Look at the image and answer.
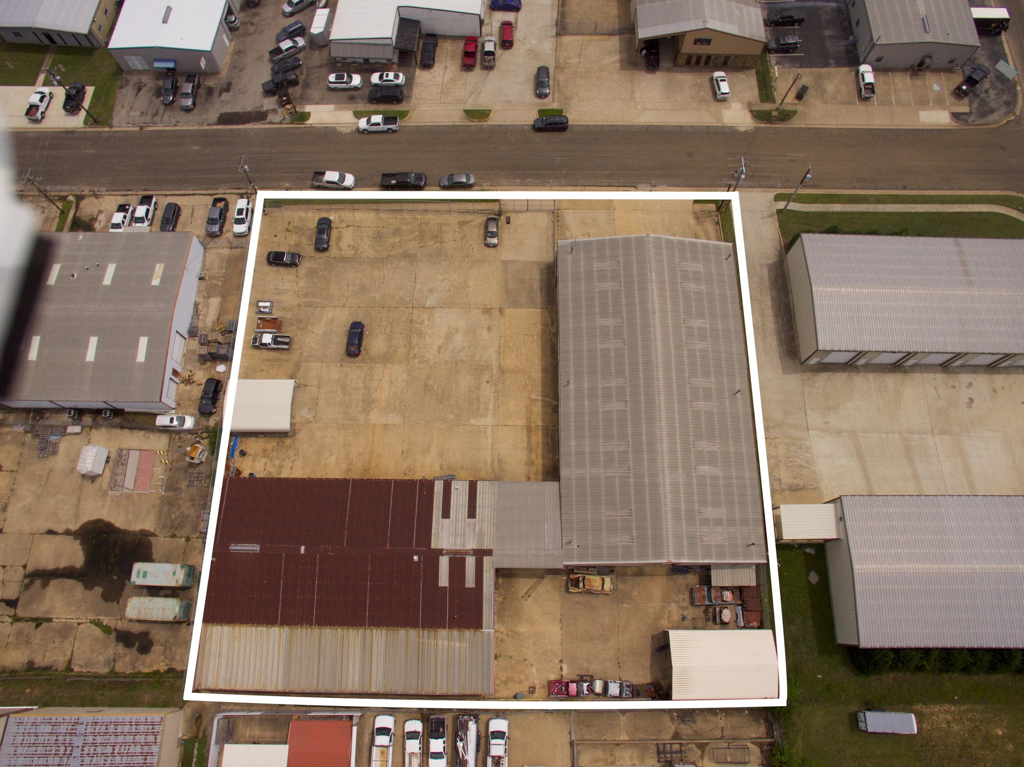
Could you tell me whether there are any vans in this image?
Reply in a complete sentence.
Yes, there is a van in the image.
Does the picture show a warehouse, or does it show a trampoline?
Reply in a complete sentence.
I can see a warehouse in this picture.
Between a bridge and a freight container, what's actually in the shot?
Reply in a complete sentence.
Looking from above, you can make out a freight container.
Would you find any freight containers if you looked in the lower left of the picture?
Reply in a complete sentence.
Yes, a freight container shows up in the lower left of the picture.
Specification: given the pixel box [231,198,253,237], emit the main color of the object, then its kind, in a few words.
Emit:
white car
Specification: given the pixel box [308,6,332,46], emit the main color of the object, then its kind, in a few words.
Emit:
white trailer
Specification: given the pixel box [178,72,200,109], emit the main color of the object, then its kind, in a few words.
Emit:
gray truck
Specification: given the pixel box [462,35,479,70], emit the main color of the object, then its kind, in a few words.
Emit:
red vehicle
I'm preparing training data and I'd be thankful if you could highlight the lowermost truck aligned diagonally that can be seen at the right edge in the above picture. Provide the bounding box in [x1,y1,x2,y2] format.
[954,66,989,97]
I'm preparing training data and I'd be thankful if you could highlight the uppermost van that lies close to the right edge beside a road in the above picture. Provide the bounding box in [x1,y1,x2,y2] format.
[971,6,1016,36]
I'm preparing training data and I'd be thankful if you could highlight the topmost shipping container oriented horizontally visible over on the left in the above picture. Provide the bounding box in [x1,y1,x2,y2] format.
[128,562,198,590]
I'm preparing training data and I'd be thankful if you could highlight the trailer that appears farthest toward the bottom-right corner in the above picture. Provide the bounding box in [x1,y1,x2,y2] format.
[854,706,918,736]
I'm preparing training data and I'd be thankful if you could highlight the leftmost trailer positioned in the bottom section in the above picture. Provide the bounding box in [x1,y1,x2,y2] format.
[78,441,112,484]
